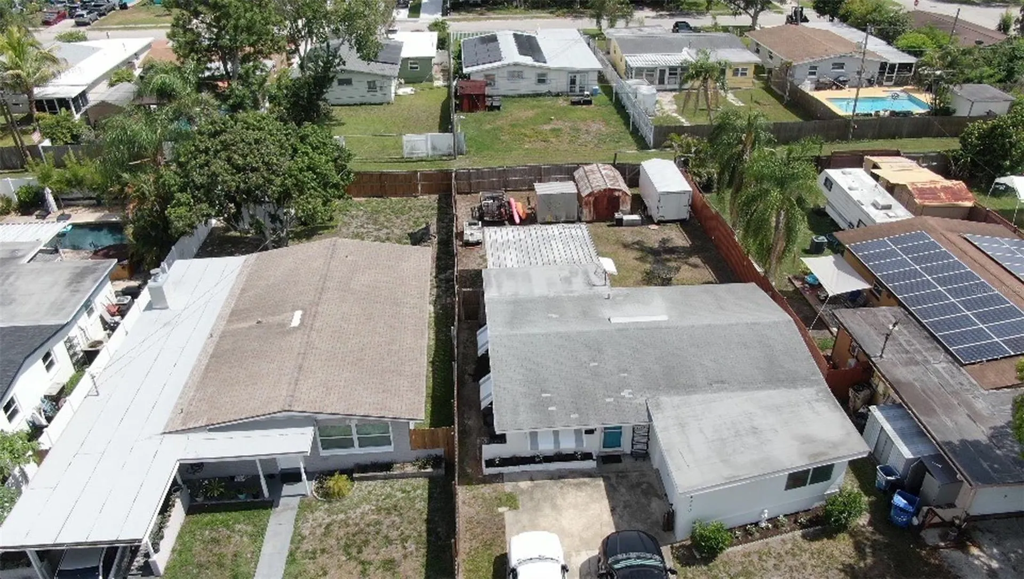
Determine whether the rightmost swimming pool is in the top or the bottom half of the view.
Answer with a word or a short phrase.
top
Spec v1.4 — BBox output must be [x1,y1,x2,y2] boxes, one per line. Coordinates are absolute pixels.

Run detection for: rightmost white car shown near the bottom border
[503,530,584,579]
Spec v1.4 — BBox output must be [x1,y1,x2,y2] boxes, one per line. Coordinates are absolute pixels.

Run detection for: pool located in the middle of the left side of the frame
[41,219,115,254]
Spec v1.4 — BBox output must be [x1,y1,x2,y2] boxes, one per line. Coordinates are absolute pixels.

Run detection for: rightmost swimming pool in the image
[823,91,933,115]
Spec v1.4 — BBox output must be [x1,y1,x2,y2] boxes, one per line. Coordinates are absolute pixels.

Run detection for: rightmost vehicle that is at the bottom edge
[598,528,675,579]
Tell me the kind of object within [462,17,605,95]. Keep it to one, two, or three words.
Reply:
house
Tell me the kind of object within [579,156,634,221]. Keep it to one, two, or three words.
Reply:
shed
